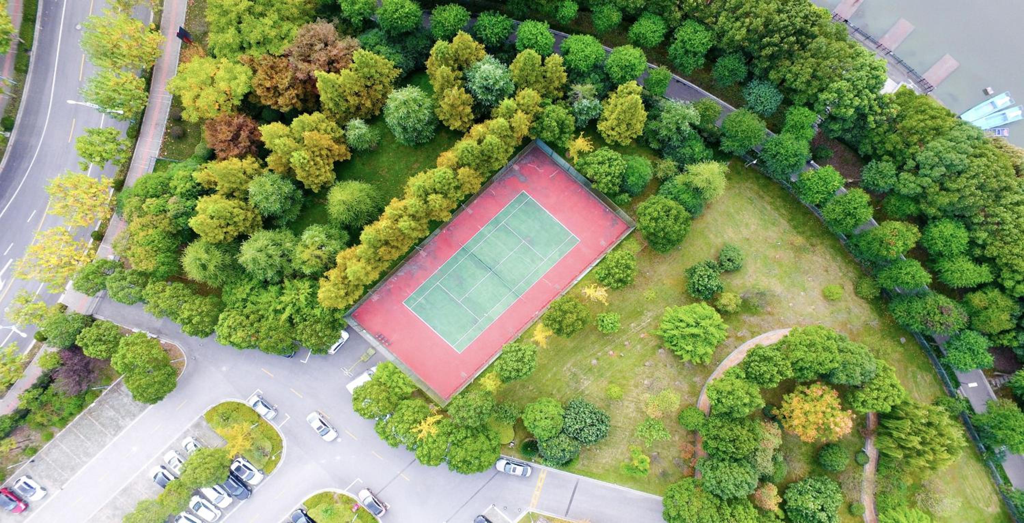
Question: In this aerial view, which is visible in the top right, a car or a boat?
boat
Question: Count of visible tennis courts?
1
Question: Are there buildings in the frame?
No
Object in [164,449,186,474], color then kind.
white car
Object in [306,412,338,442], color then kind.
white car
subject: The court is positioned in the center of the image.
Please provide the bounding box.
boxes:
[351,146,629,400]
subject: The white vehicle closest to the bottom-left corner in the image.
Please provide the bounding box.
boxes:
[13,477,48,501]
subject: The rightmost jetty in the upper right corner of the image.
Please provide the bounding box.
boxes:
[922,53,960,88]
